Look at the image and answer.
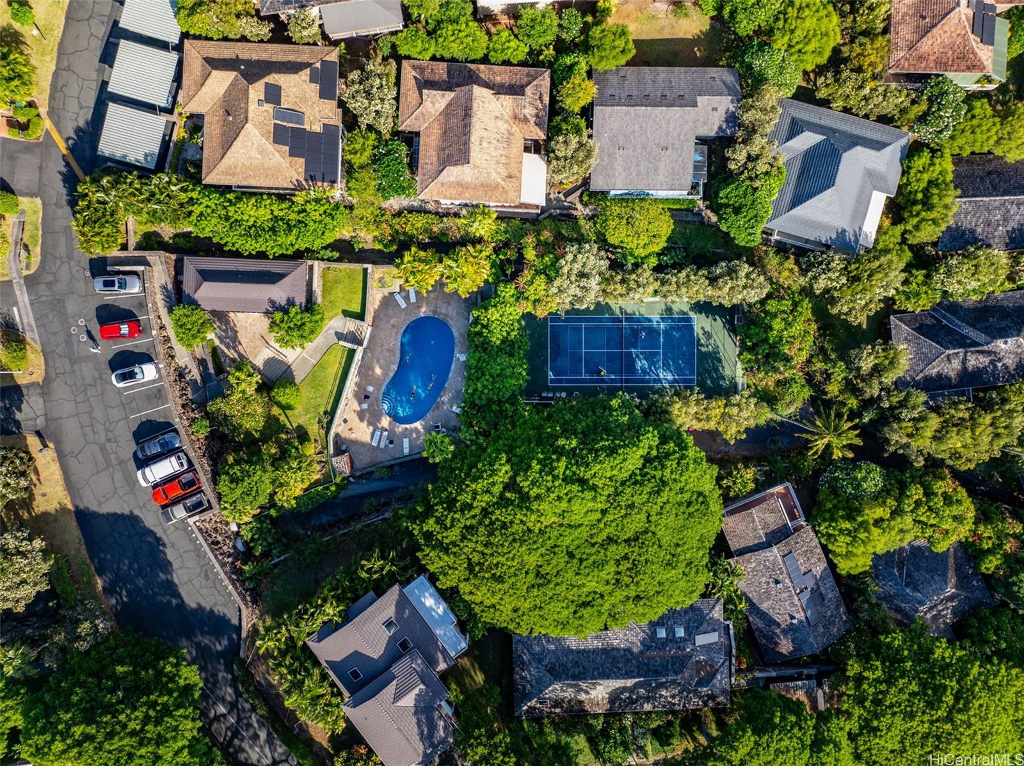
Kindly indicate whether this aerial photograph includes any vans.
Yes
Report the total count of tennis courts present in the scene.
1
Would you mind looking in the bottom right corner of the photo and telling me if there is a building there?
Yes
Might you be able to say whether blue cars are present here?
Yes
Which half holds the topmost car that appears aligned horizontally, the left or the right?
left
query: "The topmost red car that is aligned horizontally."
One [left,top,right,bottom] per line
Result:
[102,320,145,341]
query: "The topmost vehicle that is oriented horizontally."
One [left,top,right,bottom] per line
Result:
[97,273,144,295]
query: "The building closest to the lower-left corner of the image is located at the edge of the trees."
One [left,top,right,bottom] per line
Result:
[306,575,468,766]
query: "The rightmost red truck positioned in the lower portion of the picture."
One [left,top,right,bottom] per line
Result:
[156,473,205,503]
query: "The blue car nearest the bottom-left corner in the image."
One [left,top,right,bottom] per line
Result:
[138,430,184,457]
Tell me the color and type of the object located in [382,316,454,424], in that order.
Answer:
blue swimming pool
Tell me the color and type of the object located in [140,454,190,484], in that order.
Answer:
white van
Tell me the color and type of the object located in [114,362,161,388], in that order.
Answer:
white car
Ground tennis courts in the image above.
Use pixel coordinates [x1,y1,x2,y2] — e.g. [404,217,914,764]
[516,298,742,415]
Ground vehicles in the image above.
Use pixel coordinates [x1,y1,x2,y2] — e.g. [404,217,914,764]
[165,493,212,523]
[156,473,205,503]
[102,320,145,341]
[138,430,184,457]
[140,454,190,484]
[97,273,144,295]
[114,362,161,388]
